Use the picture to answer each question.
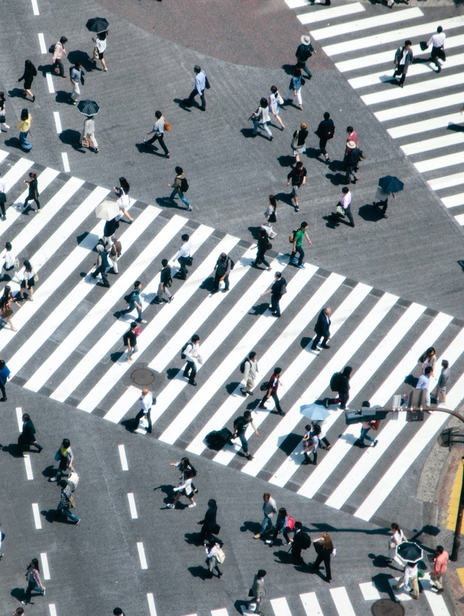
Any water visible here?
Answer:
No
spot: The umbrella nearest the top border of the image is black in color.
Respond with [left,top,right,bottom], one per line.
[86,19,113,37]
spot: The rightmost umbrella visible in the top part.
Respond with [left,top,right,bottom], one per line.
[380,178,408,197]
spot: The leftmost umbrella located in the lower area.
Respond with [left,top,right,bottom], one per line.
[297,406,333,428]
